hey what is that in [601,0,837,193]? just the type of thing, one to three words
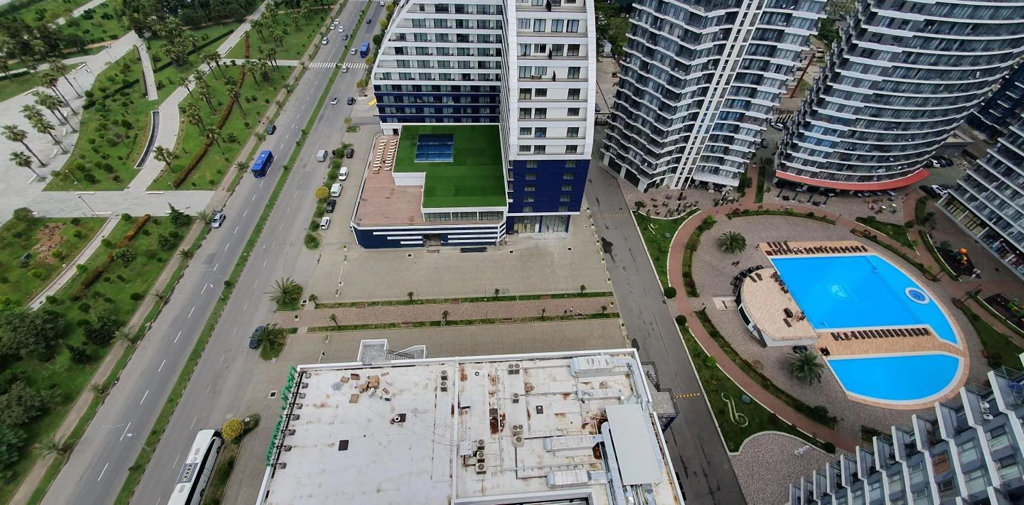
building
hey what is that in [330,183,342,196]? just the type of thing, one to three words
vehicle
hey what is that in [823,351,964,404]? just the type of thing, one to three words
swimming pool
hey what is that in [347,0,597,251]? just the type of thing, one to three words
building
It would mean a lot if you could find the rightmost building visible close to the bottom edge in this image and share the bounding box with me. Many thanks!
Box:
[794,353,1024,505]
